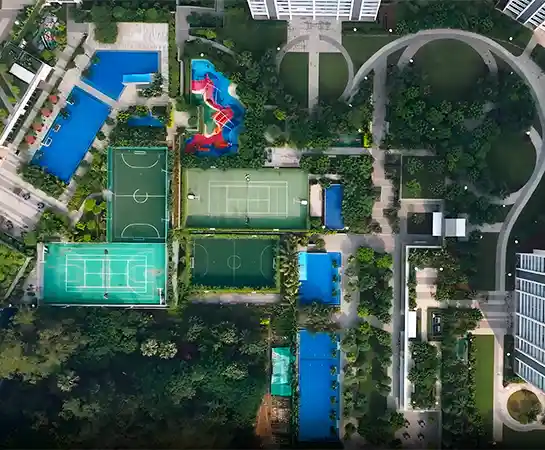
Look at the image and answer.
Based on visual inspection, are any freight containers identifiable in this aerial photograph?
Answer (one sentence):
No, the scene contains no freight container.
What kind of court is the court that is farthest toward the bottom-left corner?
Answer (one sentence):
Specifically, the court that is farthest toward the bottom-left corner is a tennis court.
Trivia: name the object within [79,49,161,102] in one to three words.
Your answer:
swimming pool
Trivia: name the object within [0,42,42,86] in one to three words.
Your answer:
house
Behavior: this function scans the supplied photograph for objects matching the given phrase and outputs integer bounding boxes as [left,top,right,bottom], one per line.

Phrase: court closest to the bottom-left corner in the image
[44,244,166,305]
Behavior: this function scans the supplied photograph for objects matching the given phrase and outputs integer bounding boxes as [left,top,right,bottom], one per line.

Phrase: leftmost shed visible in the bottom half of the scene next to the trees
[272,347,291,396]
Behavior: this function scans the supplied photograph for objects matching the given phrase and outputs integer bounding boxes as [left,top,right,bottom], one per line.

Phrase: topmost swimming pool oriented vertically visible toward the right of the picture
[324,184,343,230]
